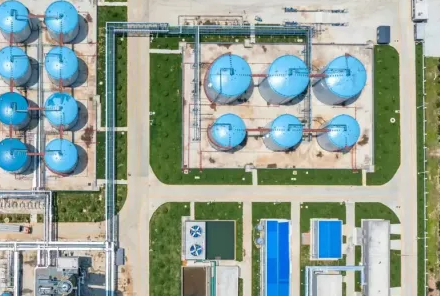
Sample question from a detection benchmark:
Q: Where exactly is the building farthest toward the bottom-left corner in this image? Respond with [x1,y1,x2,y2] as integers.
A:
[56,255,81,270]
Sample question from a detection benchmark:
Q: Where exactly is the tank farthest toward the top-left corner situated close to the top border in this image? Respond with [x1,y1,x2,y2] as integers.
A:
[0,0,34,43]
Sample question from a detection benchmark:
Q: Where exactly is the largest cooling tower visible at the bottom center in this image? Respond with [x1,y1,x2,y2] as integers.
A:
[184,221,206,259]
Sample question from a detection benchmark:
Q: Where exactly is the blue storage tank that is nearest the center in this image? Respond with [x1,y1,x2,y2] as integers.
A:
[206,114,245,152]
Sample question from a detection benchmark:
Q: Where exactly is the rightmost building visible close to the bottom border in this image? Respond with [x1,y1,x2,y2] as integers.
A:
[360,219,390,296]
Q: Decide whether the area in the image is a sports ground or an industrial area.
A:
industrial area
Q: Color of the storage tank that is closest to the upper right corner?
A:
blue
